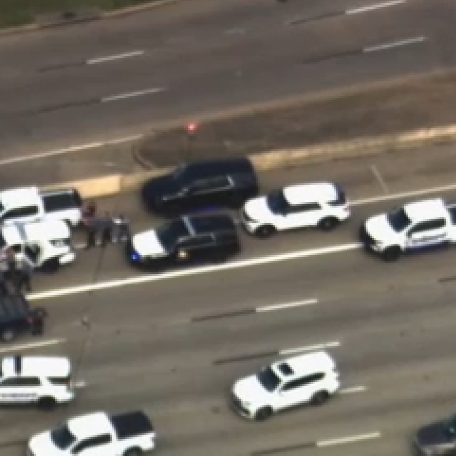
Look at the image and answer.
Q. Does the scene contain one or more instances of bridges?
No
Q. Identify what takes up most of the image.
paved ground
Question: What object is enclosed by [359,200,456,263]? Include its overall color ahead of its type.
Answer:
white vehicle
